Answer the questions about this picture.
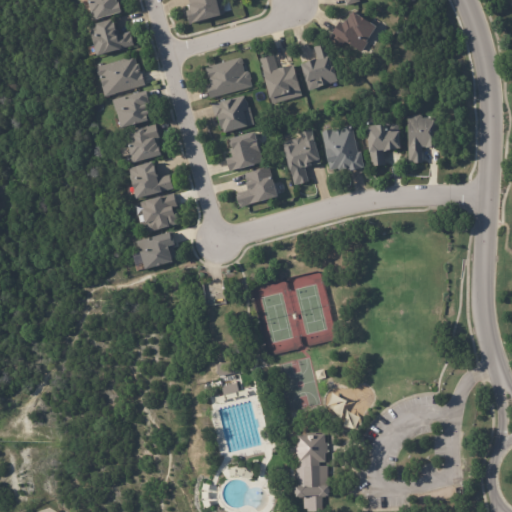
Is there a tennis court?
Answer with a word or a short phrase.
Yes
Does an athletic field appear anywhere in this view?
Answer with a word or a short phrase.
Yes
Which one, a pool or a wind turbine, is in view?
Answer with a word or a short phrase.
pool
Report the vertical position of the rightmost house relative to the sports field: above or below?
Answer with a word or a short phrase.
above it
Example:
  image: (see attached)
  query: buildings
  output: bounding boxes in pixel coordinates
[369,125,400,166]
[206,60,252,96]
[223,384,240,398]
[138,232,174,268]
[302,46,337,92]
[98,60,145,95]
[92,20,134,54]
[130,126,160,162]
[218,98,254,132]
[333,12,376,50]
[184,0,220,23]
[238,166,277,206]
[113,94,148,126]
[408,114,434,163]
[295,434,330,512]
[322,126,362,172]
[130,162,174,198]
[141,194,178,232]
[227,134,260,170]
[286,131,320,186]
[261,56,302,104]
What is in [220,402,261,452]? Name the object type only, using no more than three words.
swimming pool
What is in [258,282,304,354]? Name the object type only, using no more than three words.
tennis court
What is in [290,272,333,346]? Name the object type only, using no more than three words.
tennis court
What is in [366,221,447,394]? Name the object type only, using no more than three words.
sports field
